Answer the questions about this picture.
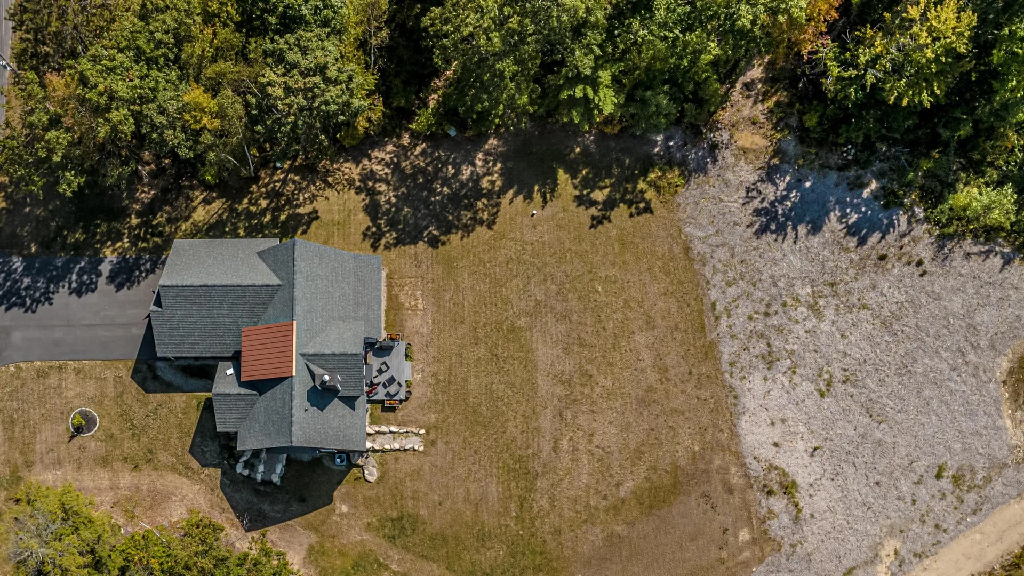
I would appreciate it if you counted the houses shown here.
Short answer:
1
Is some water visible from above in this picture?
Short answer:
No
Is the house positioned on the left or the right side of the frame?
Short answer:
left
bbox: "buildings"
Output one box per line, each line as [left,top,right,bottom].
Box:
[150,238,382,451]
